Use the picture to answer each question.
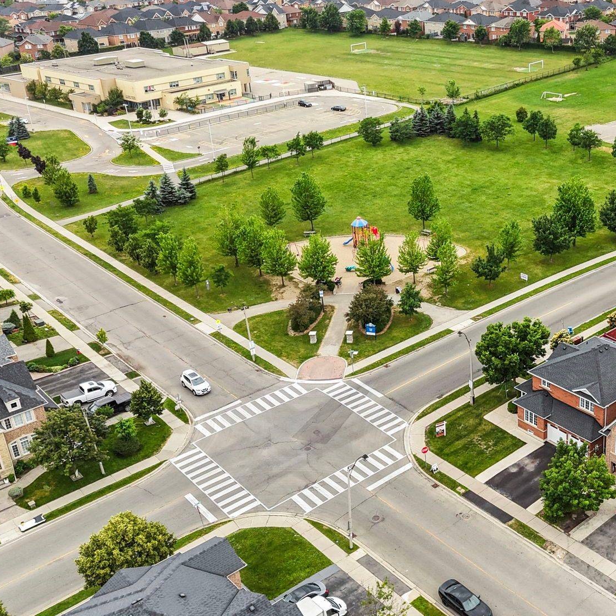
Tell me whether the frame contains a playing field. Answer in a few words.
Yes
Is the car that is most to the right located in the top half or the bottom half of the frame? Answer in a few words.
bottom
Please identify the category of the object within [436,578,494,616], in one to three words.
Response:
car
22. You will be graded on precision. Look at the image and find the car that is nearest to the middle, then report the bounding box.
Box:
[179,370,211,396]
